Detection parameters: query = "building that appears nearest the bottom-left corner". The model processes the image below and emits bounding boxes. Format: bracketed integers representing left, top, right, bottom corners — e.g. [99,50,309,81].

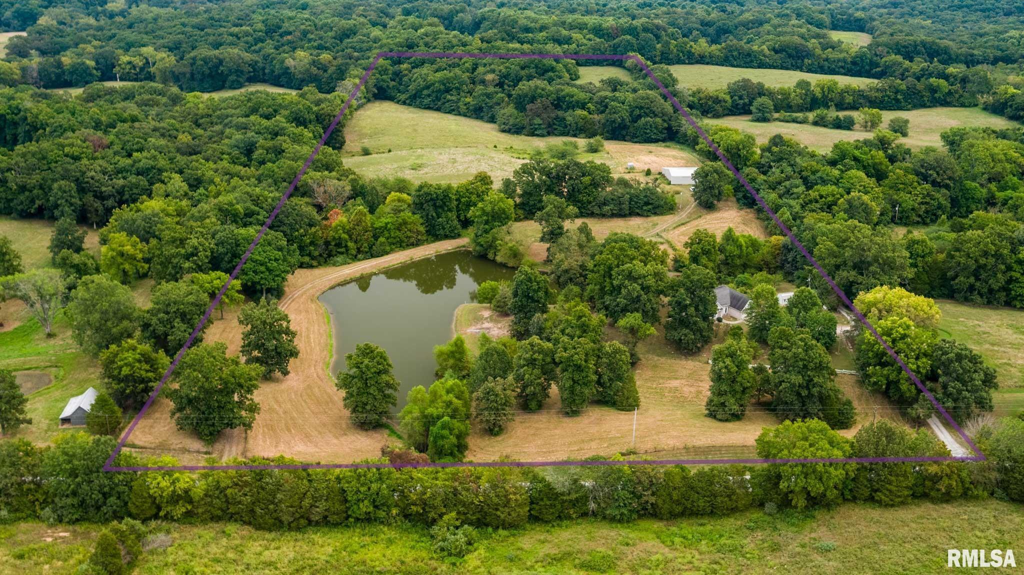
[55,384,108,426]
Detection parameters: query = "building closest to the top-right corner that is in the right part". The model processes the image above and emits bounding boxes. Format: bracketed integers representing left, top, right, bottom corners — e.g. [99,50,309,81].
[664,166,707,184]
